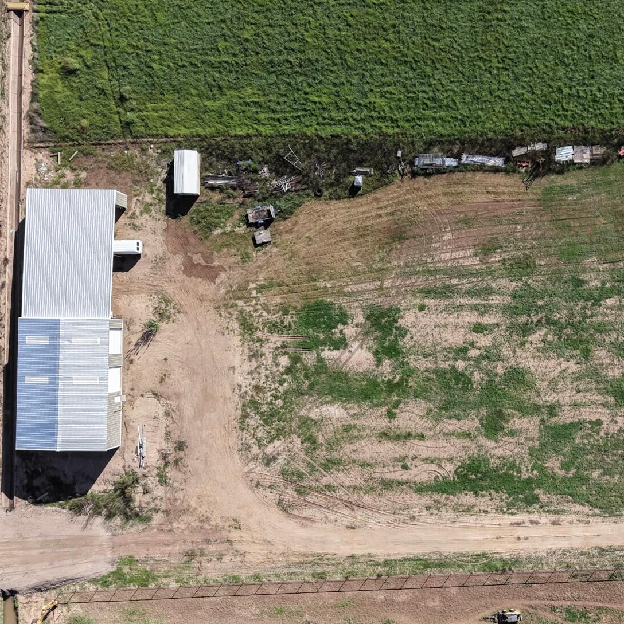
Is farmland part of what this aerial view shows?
Yes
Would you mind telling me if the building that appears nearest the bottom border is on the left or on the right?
left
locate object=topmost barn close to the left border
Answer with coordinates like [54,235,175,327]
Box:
[21,188,126,318]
